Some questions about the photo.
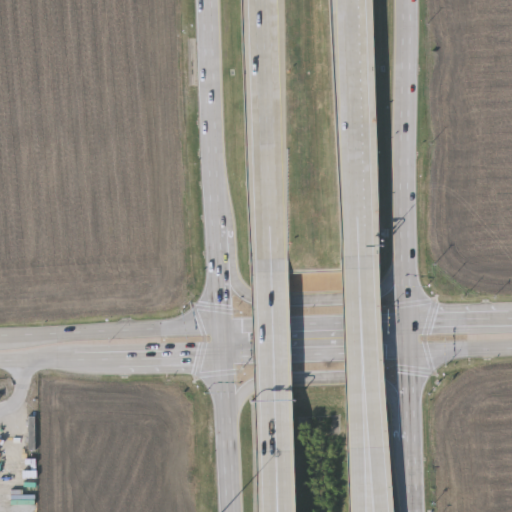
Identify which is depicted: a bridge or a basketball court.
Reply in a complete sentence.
The image shows a bridge.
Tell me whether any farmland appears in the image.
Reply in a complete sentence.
Yes, the picture does contain farmland.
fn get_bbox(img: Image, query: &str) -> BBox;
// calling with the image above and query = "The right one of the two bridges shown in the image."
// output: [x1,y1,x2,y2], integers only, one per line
[342,260,394,512]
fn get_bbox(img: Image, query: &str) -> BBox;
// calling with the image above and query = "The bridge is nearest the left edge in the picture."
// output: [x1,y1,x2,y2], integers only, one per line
[251,260,296,512]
